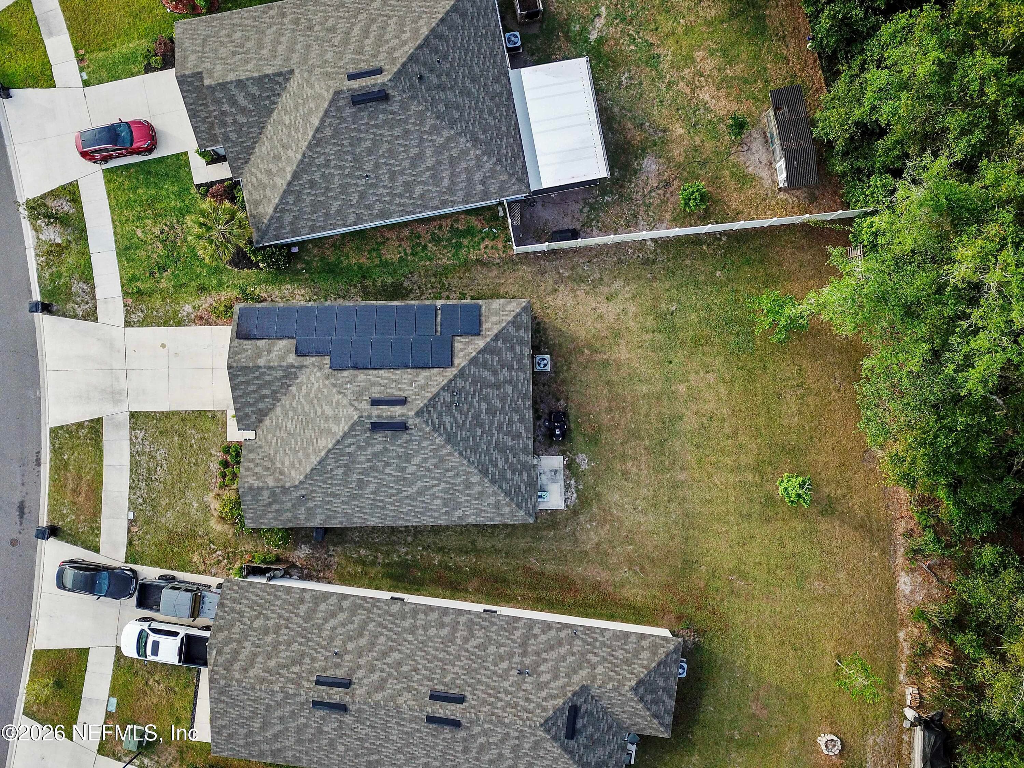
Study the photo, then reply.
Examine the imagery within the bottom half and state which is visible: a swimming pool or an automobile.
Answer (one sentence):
It is an automobile that can be seen within the bottom half.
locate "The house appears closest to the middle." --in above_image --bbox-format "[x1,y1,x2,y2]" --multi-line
[226,299,536,528]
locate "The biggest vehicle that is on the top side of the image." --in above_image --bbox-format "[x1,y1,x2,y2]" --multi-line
[75,116,157,164]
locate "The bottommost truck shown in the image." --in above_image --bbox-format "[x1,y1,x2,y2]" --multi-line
[119,616,211,671]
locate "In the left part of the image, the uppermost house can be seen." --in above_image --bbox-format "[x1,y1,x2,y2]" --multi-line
[174,0,532,249]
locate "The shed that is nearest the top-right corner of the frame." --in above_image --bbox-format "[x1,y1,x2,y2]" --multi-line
[763,84,820,197]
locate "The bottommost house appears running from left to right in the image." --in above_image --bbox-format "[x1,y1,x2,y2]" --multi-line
[206,574,683,768]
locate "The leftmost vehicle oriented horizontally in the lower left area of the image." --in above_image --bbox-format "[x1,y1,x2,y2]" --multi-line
[53,559,139,605]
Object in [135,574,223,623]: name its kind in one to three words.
truck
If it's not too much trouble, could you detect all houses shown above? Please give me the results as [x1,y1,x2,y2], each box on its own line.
[206,574,683,768]
[226,299,536,528]
[174,0,532,249]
